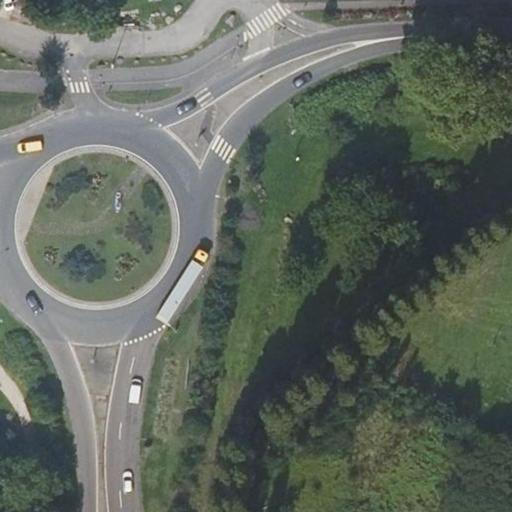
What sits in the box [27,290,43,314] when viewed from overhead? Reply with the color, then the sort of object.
gray car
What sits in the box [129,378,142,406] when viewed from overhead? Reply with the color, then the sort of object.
white vehicle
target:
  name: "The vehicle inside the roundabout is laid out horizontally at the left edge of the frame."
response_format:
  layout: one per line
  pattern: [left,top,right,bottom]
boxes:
[17,140,43,154]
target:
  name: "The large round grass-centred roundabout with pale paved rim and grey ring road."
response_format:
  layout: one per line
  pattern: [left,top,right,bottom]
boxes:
[0,112,214,344]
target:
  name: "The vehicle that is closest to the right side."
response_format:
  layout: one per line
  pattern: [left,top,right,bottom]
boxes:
[292,72,312,89]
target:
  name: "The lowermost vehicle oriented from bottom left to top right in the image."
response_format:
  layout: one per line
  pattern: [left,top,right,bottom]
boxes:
[156,250,211,326]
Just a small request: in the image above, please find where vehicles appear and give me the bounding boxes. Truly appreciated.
[27,290,43,314]
[122,470,134,494]
[176,97,198,114]
[156,250,211,326]
[129,378,142,406]
[4,0,14,12]
[17,140,43,154]
[292,72,312,89]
